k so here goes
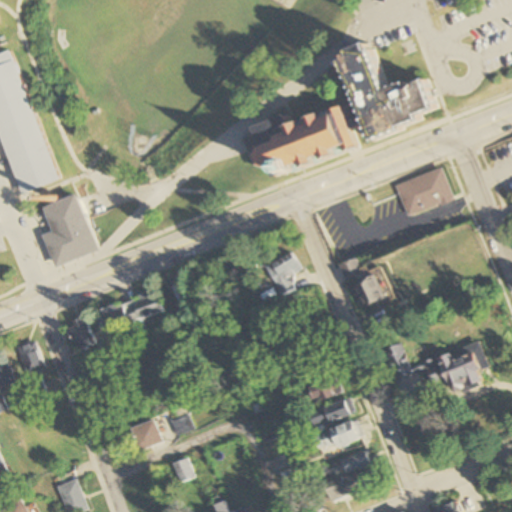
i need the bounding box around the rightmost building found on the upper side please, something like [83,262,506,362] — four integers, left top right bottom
[396,167,454,217]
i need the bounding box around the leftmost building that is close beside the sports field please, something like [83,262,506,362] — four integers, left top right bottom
[0,50,63,188]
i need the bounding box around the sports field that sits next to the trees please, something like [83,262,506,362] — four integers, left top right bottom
[56,0,274,158]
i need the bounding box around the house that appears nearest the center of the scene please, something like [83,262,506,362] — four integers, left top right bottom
[266,252,304,296]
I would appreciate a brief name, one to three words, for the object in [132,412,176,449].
house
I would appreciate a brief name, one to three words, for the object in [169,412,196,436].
building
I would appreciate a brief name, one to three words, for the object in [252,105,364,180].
building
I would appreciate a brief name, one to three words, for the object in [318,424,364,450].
house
